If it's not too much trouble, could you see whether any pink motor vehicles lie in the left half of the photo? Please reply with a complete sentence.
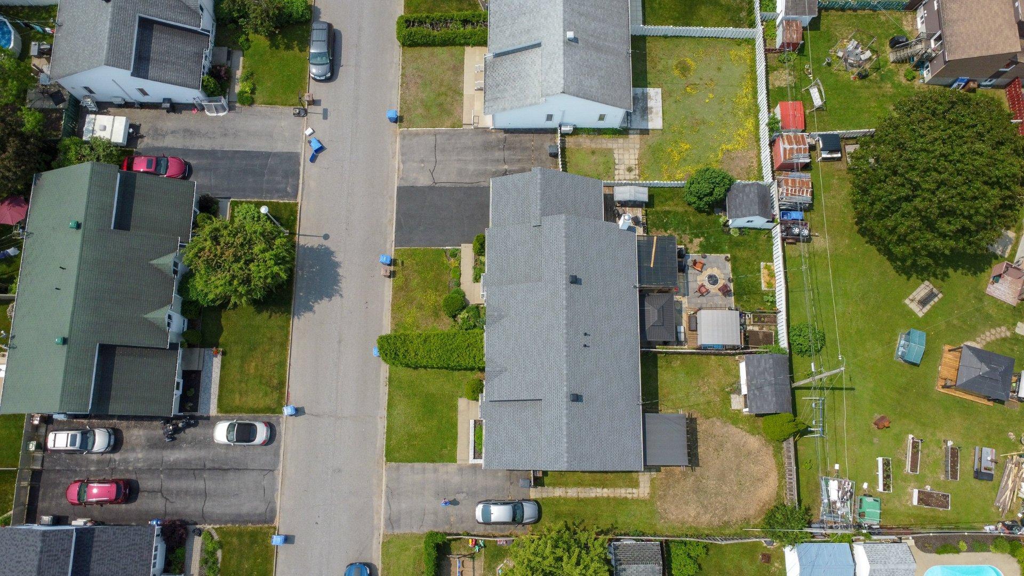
Yes, a pink motor vehicle is visible in the left half of the photo.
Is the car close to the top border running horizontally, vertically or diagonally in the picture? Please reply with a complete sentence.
The car close to the top border has been laid out vertically relative to the frame.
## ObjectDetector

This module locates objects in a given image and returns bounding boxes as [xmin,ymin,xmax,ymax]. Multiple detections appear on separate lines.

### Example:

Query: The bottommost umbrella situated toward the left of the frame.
[0,190,30,225]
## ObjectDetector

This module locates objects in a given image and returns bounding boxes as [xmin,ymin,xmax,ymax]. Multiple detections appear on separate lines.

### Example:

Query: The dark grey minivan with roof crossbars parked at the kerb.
[305,20,336,81]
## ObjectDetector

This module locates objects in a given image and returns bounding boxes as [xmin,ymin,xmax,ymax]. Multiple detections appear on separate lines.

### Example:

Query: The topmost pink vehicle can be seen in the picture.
[123,154,189,181]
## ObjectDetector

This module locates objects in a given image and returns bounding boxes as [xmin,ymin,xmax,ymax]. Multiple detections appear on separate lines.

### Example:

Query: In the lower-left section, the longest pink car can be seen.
[65,476,133,508]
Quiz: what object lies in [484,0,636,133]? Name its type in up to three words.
house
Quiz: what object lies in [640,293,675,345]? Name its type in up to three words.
gazebo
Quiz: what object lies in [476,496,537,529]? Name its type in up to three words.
car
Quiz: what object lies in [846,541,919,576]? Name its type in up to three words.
shed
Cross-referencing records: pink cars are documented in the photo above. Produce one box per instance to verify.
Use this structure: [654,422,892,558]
[65,476,133,508]
[123,154,189,181]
